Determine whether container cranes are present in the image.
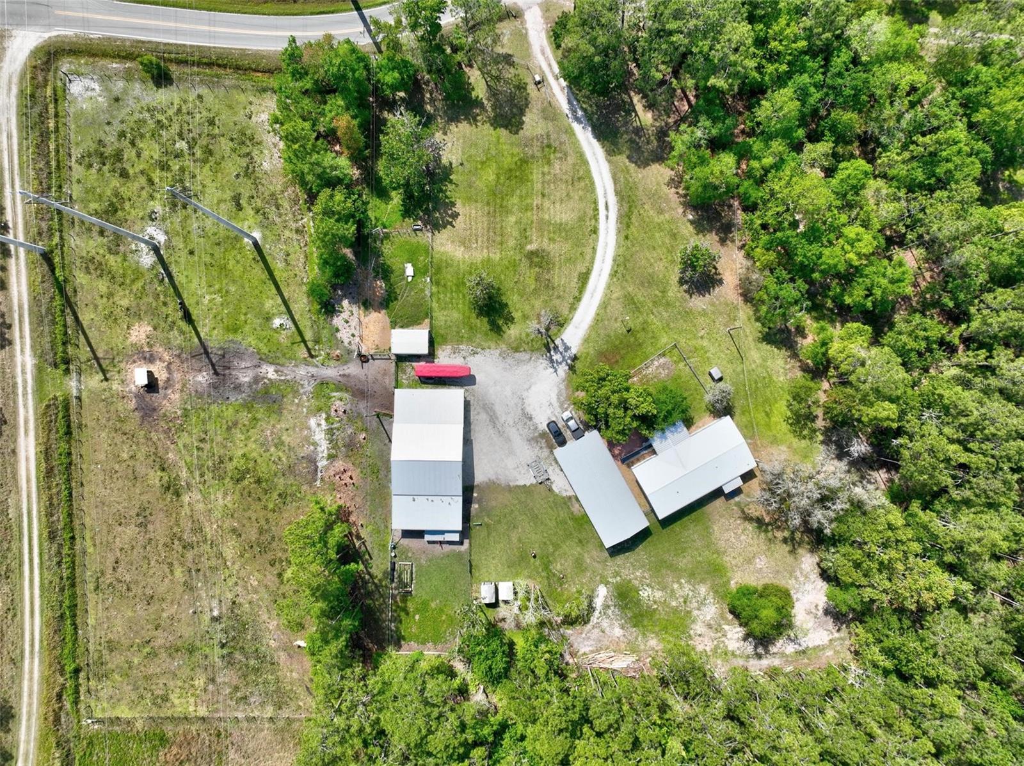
No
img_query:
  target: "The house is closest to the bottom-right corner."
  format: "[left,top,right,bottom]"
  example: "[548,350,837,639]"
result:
[629,414,753,517]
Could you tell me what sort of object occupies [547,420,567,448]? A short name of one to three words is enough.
car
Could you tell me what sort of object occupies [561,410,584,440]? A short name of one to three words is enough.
truck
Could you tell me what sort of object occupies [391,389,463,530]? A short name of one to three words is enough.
barn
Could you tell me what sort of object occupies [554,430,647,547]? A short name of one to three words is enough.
building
